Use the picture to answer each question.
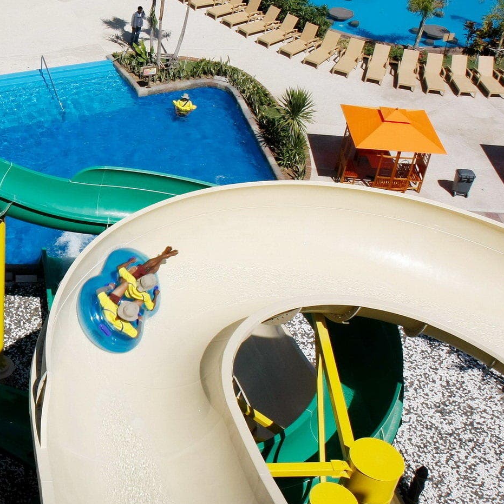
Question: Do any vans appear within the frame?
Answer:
No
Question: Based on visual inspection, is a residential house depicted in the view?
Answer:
No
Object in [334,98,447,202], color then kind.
orange gazebo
